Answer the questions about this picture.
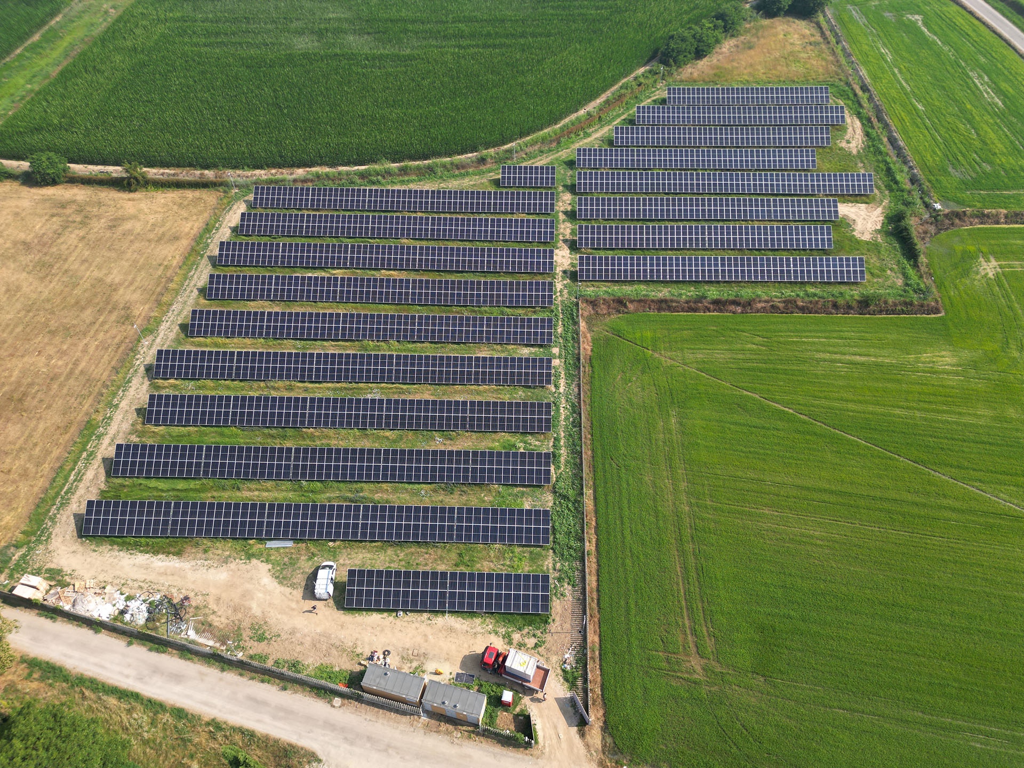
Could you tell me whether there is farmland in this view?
Yes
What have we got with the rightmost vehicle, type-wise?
truck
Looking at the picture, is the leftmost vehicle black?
No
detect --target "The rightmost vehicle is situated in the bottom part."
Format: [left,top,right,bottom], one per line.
[474,639,550,691]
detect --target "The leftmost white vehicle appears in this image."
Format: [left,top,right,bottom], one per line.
[314,560,336,598]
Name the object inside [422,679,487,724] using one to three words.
building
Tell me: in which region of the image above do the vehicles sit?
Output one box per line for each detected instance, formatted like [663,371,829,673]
[474,639,550,691]
[314,560,336,598]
